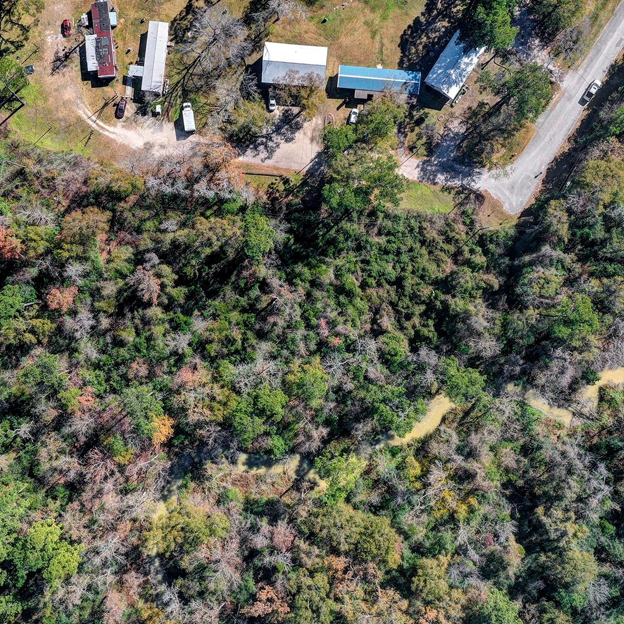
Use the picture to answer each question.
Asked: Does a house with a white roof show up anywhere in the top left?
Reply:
Yes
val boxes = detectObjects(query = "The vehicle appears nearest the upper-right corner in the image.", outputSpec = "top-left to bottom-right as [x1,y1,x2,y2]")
[585,77,603,102]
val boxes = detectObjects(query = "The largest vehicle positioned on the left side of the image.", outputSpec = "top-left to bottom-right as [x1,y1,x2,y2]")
[181,103,195,133]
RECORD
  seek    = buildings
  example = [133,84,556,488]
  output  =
[337,65,421,100]
[261,41,328,89]
[425,25,490,101]
[85,0,117,78]
[128,20,169,94]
